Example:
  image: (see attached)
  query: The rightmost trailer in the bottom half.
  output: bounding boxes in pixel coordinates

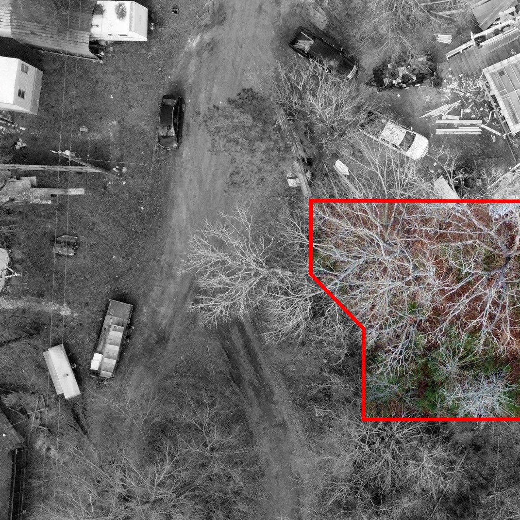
[89,297,136,386]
